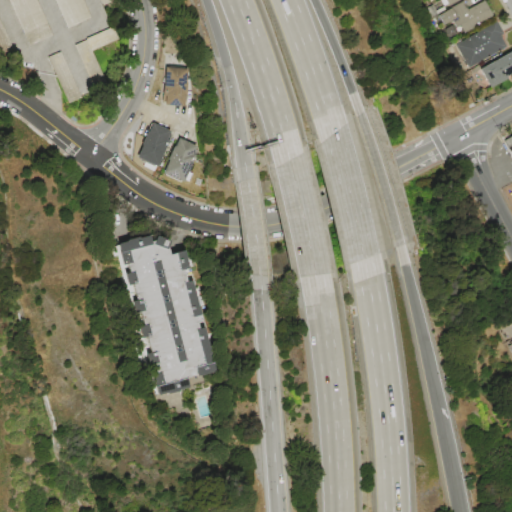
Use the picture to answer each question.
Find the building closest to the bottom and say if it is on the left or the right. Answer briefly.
left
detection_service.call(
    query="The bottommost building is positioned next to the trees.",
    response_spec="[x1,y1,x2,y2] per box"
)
[116,236,217,394]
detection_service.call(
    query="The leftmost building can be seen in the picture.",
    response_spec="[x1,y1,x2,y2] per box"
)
[12,0,52,44]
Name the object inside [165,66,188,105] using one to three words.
house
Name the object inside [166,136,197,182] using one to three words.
house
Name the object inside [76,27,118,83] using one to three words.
building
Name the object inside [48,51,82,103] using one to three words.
building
